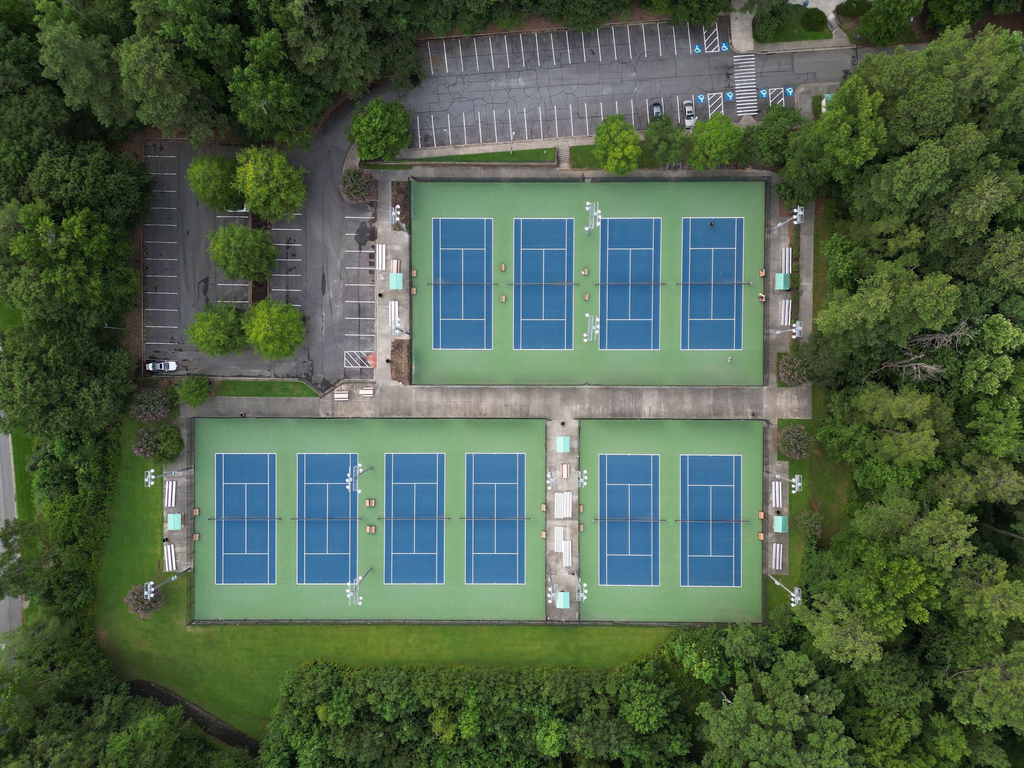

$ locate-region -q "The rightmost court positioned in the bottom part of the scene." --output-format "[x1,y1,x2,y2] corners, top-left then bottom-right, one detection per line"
[675,455,751,587]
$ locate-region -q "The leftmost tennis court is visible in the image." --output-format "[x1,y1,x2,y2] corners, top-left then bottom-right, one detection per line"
[205,453,281,584]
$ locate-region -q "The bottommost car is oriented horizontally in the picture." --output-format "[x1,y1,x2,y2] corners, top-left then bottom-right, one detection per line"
[149,360,178,372]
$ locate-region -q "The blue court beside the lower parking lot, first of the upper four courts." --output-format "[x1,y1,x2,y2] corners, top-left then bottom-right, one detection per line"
[426,218,498,350]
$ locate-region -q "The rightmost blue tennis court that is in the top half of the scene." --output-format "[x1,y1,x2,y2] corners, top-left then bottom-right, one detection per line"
[677,217,754,350]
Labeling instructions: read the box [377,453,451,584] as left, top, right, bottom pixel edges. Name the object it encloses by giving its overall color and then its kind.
blue tennis court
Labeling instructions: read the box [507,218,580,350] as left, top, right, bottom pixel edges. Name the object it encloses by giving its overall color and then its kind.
blue tennis court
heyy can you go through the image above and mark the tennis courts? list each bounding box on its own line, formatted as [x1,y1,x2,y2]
[205,453,281,584]
[460,453,533,584]
[675,455,751,587]
[507,218,580,350]
[592,454,667,586]
[289,453,363,584]
[377,453,451,584]
[677,217,754,350]
[594,218,668,350]
[426,218,498,350]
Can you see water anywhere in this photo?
No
